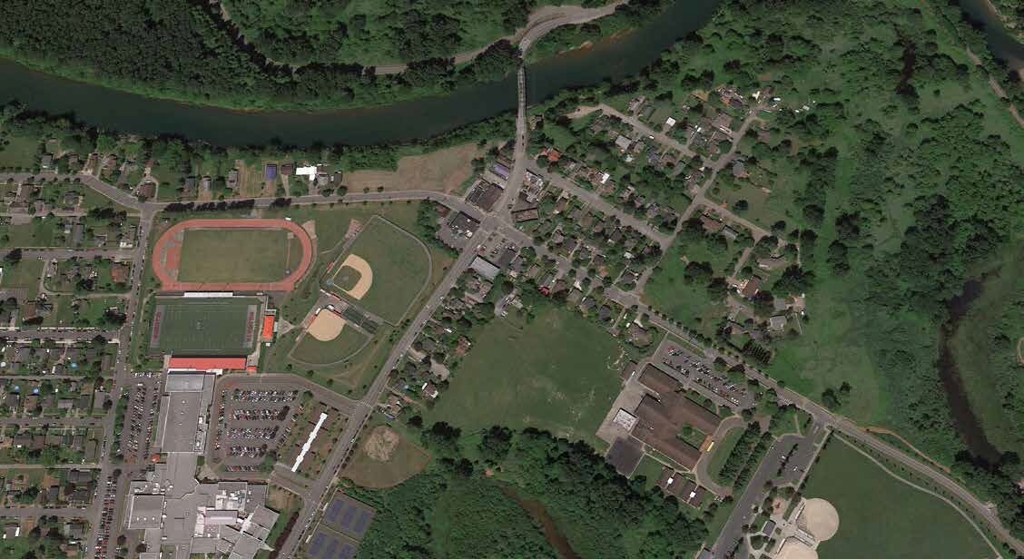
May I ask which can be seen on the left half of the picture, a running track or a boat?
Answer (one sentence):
There is a running track on the left half of the picture.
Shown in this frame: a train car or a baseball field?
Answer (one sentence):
It is a baseball field that can be seen here.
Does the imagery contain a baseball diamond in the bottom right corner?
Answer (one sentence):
Yes, the scene does show a baseball diamond in the bottom right corner.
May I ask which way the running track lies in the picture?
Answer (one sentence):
The running track is laid out from left to right.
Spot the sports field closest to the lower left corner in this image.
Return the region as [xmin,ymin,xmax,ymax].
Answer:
[146,297,259,355]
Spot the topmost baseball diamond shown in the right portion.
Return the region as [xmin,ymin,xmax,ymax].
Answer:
[797,499,839,541]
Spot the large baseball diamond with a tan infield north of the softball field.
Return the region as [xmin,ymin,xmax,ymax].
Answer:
[319,216,432,327]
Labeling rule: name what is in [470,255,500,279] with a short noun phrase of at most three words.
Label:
building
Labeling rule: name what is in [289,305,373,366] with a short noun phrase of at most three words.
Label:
baseball field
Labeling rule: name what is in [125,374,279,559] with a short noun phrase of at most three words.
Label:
building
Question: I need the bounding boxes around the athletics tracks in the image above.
[152,217,312,290]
